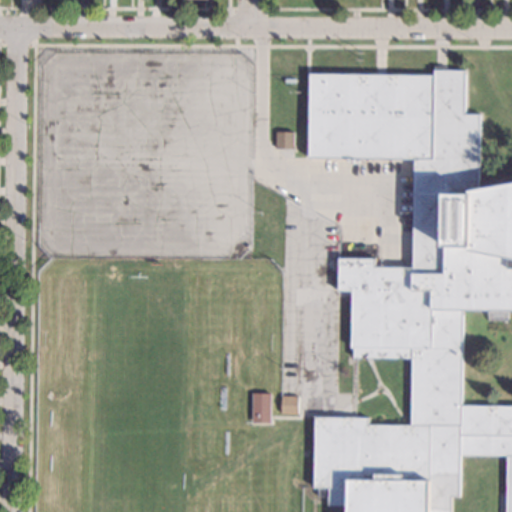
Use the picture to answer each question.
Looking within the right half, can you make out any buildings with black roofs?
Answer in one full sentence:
No, no building with a black roof is visible within the right half.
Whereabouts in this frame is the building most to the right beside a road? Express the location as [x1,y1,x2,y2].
[308,69,512,512]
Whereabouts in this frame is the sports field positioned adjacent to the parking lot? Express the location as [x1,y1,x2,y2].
[38,258,345,512]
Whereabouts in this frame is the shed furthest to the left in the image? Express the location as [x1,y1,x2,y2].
[253,393,272,422]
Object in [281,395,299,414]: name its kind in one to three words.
building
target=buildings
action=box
[253,393,272,422]
[277,132,294,148]
[281,395,299,414]
[308,69,512,512]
